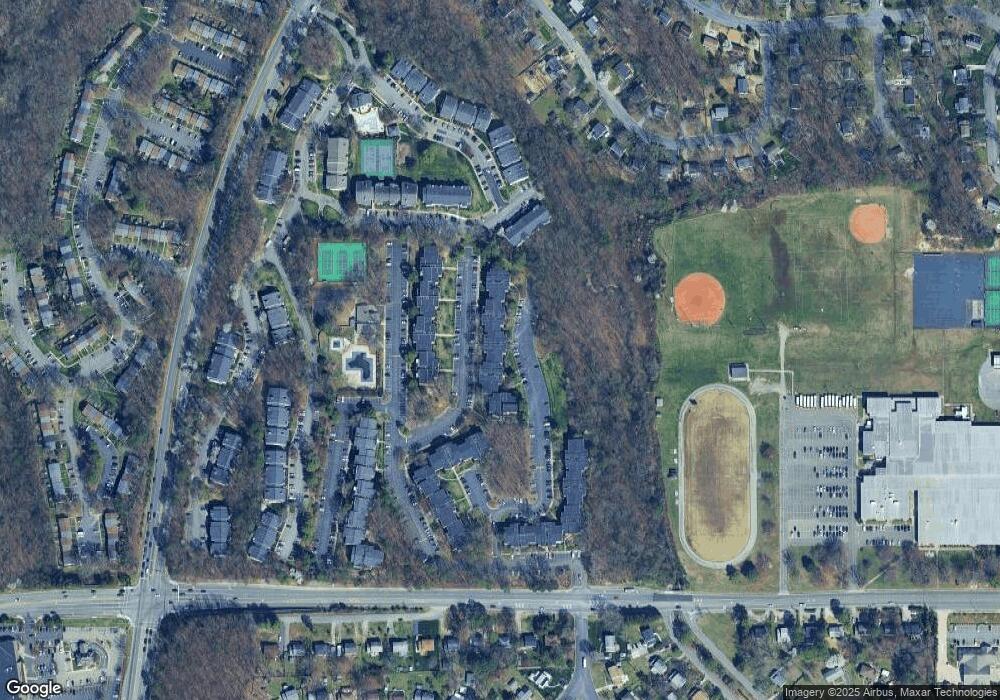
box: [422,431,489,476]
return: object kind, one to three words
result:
building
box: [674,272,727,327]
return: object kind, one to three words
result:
baseball field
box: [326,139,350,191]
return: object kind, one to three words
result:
building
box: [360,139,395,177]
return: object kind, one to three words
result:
tennis court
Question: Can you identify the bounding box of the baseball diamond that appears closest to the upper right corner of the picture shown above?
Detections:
[850,203,888,244]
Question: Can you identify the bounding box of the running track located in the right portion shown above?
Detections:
[678,384,758,570]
